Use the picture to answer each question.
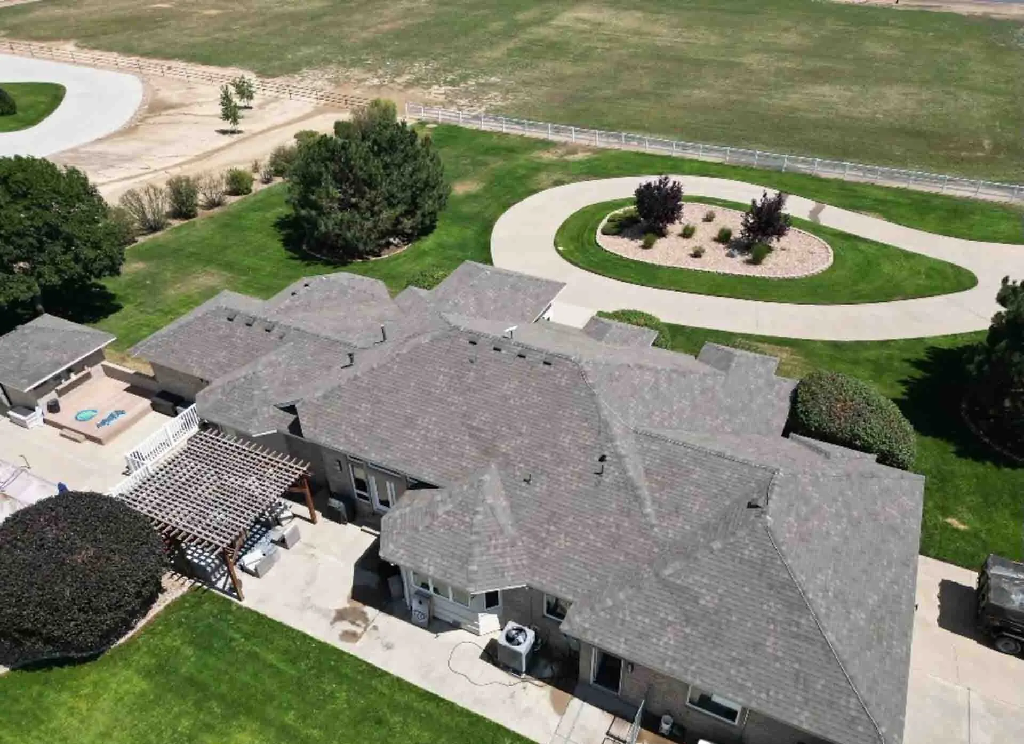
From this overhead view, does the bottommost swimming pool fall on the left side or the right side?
left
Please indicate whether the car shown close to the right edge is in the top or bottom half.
bottom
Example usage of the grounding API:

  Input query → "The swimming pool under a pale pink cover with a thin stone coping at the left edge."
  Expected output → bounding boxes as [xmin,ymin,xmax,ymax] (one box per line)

[0,457,67,511]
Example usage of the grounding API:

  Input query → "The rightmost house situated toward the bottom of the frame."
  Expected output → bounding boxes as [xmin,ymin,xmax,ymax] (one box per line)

[128,260,927,744]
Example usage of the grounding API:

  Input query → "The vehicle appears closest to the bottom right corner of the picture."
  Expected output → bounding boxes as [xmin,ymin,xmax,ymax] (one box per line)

[973,562,1024,657]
